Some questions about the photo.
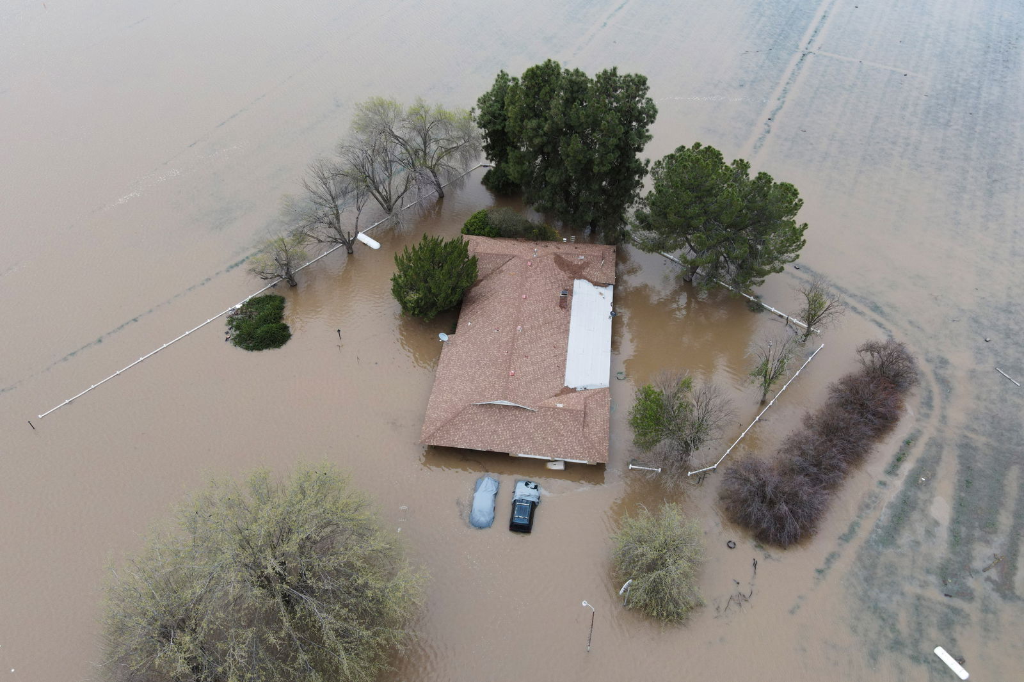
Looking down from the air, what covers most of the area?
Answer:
water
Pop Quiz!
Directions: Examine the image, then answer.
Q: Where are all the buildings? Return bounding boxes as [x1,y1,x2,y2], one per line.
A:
[420,234,617,467]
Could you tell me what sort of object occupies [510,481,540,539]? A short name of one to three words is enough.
car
